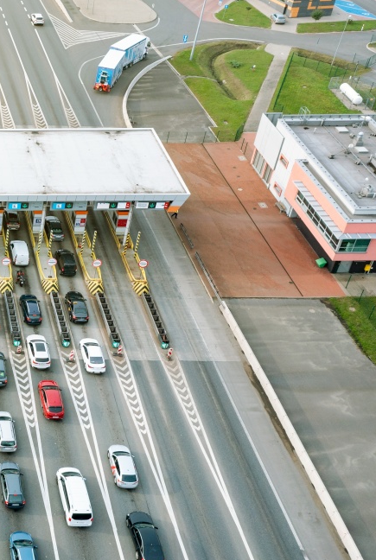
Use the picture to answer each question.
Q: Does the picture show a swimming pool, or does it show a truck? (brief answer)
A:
truck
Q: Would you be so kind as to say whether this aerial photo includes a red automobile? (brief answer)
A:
Yes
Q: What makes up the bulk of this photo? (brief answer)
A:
paved ground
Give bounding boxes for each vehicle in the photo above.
[0,351,7,387]
[66,292,89,323]
[272,10,288,22]
[17,270,26,286]
[94,73,109,93]
[0,461,24,509]
[20,293,42,325]
[80,339,105,374]
[9,240,30,266]
[40,383,63,420]
[30,12,44,24]
[10,534,39,560]
[60,473,89,528]
[55,248,76,275]
[109,446,136,489]
[0,409,16,451]
[110,31,153,69]
[27,335,51,369]
[131,514,162,560]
